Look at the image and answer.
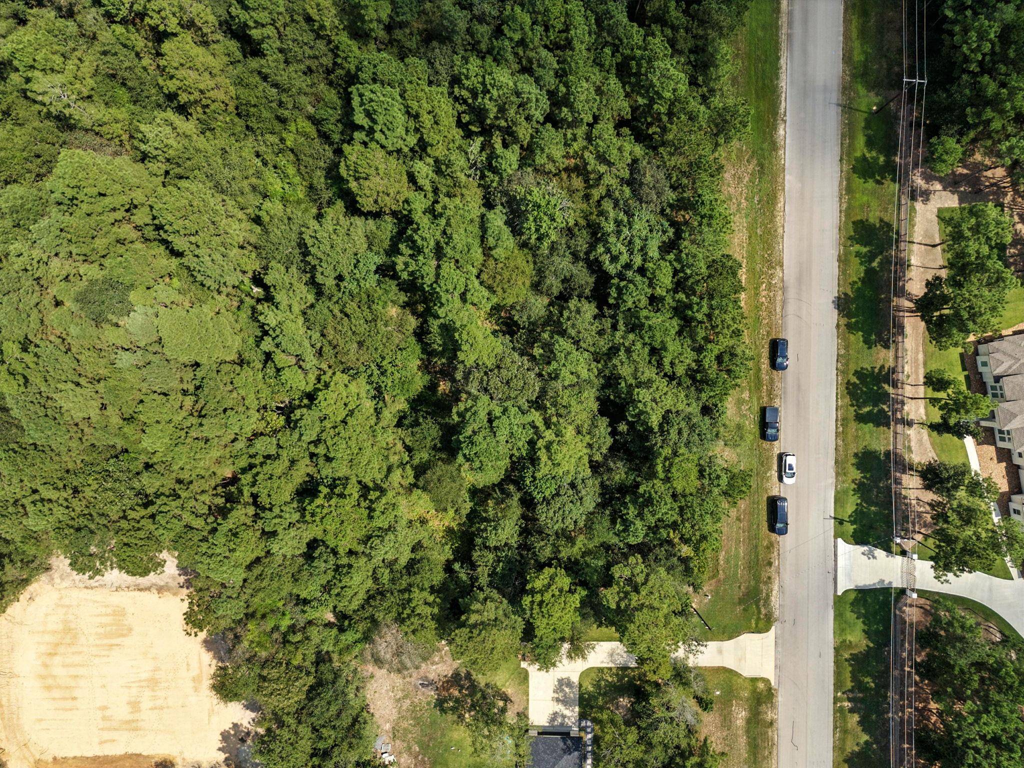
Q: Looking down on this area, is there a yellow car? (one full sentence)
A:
No, I can see no yellow car in this picture.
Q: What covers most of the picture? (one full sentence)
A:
For the most part, this view shows trees.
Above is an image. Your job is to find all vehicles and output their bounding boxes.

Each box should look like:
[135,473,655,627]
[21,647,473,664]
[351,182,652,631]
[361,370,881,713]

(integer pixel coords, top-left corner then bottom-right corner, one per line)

[773,338,790,370]
[771,497,789,534]
[763,405,780,442]
[779,452,796,483]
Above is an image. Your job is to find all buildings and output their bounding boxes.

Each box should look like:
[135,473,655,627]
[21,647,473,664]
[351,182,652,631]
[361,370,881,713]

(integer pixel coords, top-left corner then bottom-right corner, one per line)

[526,729,585,768]
[976,332,1024,544]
